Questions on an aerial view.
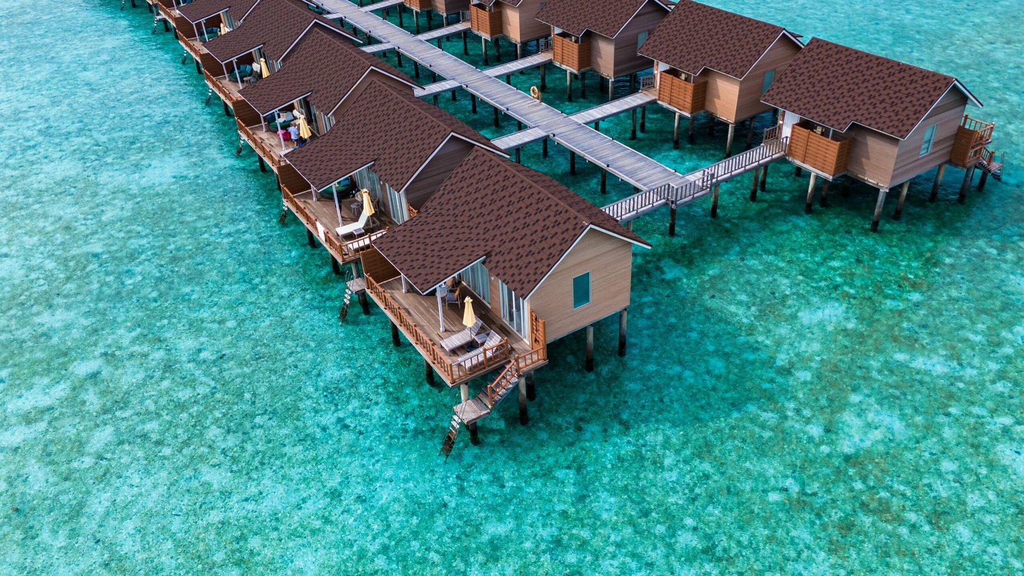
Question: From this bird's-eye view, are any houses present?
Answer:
Yes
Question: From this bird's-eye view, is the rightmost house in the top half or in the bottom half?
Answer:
top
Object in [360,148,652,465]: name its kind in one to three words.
house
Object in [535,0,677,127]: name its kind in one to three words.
house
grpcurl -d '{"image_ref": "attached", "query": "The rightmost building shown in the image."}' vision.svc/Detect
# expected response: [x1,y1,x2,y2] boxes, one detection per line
[761,37,1003,248]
